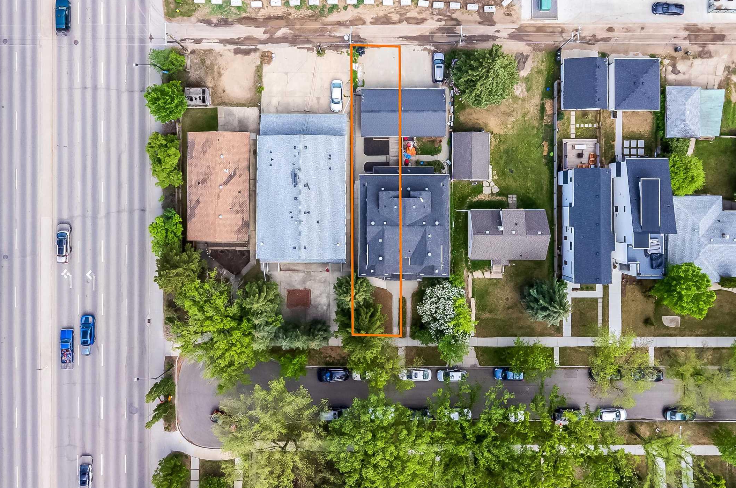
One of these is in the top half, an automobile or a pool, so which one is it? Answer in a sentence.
What appears in the top half is an automobile.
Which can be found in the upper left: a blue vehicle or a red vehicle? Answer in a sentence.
The one visible in the upper left is a blue vehicle.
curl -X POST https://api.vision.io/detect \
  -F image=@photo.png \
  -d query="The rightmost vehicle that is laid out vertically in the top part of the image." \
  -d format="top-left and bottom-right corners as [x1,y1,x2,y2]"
[431,52,447,85]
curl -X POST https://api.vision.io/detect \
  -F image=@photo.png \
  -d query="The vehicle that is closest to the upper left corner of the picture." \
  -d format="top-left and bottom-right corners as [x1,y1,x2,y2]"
[54,0,72,36]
